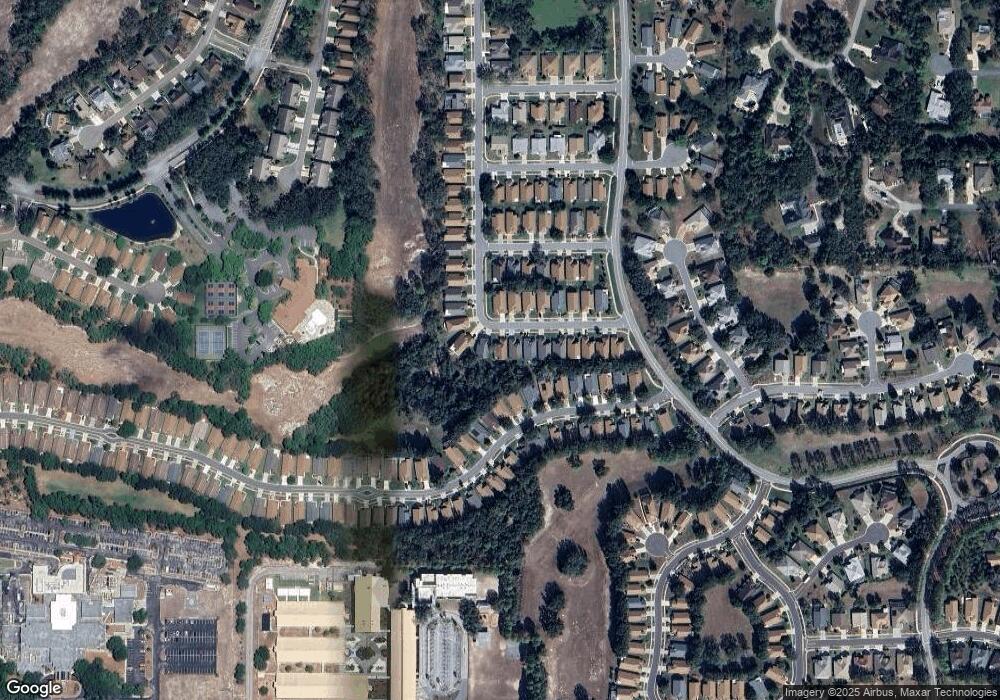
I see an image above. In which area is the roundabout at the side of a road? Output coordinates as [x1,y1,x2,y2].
[938,437,1000,511]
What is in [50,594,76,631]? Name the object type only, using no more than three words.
building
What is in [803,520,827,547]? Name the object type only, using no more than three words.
house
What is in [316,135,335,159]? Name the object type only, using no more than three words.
house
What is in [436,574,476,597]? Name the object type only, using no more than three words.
building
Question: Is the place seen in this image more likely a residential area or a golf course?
residential area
